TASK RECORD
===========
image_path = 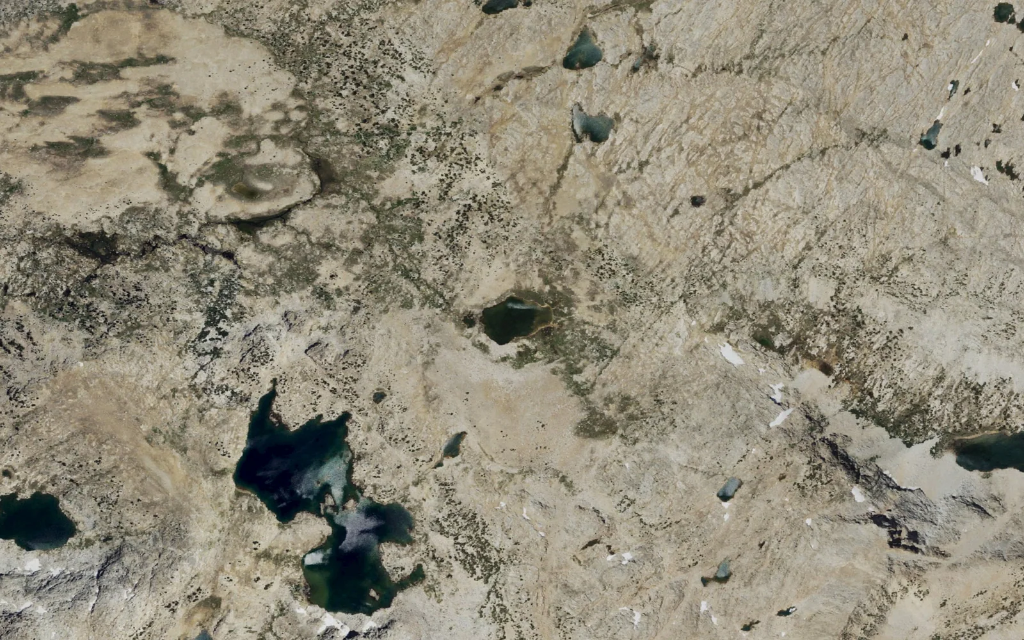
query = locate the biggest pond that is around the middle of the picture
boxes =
[480,296,553,345]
